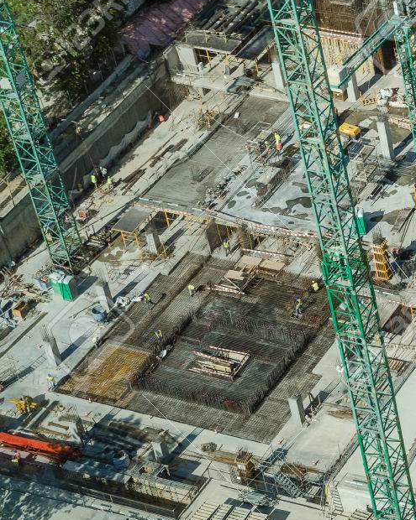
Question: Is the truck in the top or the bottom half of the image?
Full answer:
The bottom half of the photo is where the truck is.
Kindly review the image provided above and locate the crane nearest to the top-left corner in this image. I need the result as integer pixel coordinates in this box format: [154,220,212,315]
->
[0,0,98,269]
